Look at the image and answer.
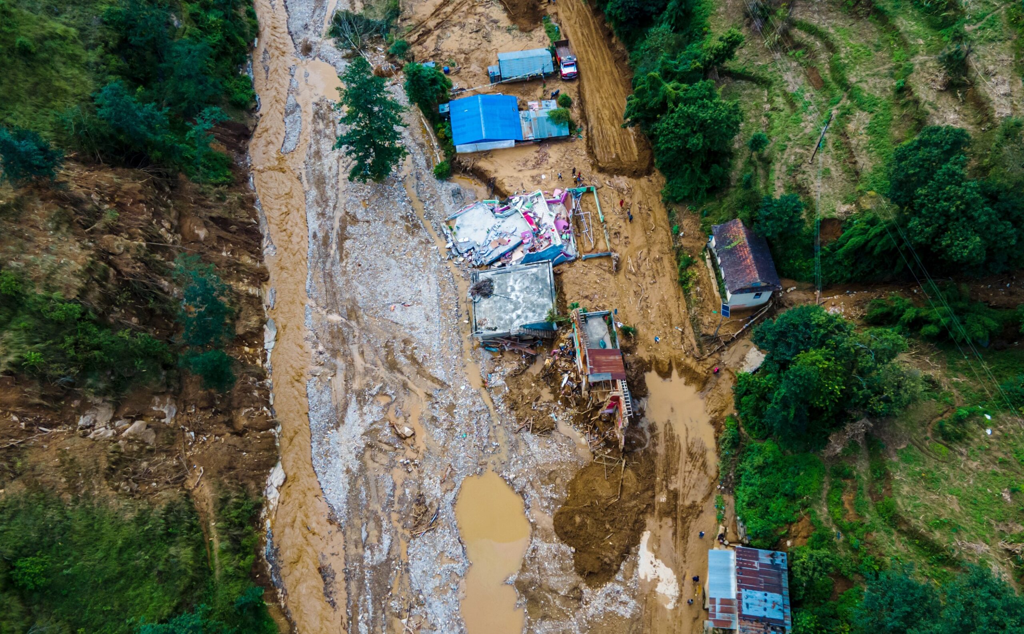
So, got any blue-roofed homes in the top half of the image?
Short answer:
Yes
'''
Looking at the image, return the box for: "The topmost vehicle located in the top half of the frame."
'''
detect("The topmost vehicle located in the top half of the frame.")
[555,34,579,80]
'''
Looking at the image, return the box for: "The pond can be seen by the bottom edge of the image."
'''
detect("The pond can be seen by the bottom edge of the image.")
[452,467,534,634]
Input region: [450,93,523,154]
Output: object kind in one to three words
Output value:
house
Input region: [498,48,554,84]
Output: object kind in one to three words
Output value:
shed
